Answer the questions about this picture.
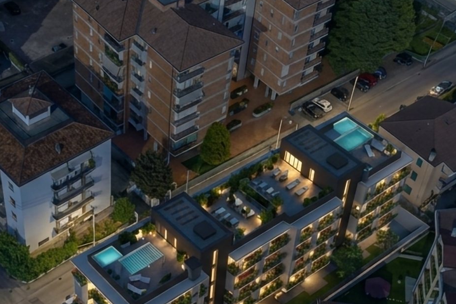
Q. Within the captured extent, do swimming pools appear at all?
Yes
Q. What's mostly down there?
buildings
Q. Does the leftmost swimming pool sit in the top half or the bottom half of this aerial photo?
bottom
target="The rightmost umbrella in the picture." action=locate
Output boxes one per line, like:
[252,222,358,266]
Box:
[363,278,389,299]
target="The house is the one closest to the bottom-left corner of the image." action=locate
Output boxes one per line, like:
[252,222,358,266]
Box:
[0,71,115,247]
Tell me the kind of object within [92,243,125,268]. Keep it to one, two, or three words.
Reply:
swimming pool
